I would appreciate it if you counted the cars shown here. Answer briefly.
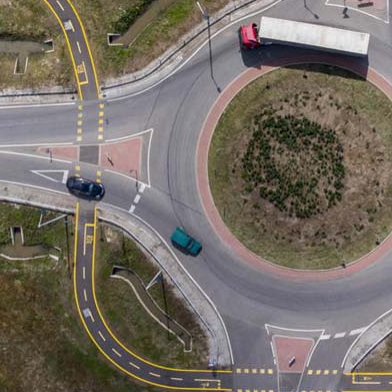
2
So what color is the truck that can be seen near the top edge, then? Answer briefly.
white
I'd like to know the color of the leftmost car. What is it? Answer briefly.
black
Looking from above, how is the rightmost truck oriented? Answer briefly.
from left to right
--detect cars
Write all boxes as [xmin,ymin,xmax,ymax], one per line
[171,227,201,253]
[68,178,105,199]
